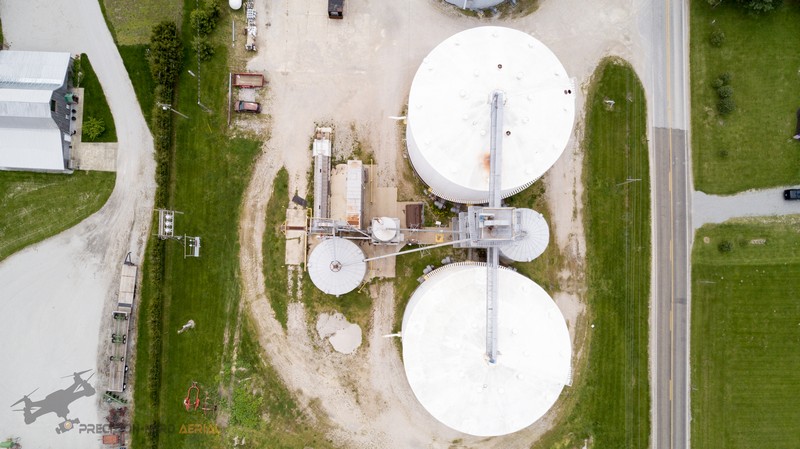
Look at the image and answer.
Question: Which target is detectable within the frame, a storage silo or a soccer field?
storage silo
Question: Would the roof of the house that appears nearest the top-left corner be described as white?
Yes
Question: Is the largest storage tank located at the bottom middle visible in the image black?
No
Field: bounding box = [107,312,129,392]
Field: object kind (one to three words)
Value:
trailer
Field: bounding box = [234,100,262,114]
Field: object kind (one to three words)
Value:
car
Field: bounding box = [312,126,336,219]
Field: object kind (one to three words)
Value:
shed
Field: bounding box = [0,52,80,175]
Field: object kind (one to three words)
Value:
house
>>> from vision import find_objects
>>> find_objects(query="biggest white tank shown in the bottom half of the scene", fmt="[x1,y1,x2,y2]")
[383,262,579,437]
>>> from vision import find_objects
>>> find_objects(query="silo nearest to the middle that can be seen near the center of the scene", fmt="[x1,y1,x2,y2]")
[371,217,405,245]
